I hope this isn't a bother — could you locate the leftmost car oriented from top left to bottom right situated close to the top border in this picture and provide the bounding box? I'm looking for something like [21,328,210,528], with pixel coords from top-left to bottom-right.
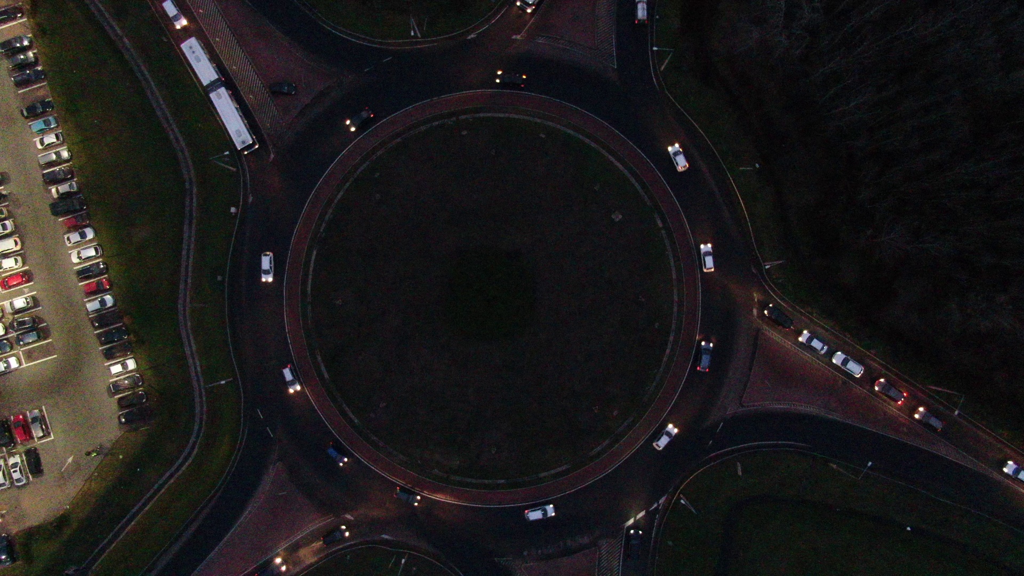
[162,0,186,27]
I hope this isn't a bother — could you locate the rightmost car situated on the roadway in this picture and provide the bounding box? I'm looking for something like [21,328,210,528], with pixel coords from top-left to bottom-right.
[1002,464,1024,487]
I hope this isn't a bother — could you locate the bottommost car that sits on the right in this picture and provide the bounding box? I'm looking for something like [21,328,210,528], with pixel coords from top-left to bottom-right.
[628,529,642,560]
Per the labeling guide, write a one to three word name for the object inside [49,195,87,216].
car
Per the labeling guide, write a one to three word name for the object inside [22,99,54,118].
car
